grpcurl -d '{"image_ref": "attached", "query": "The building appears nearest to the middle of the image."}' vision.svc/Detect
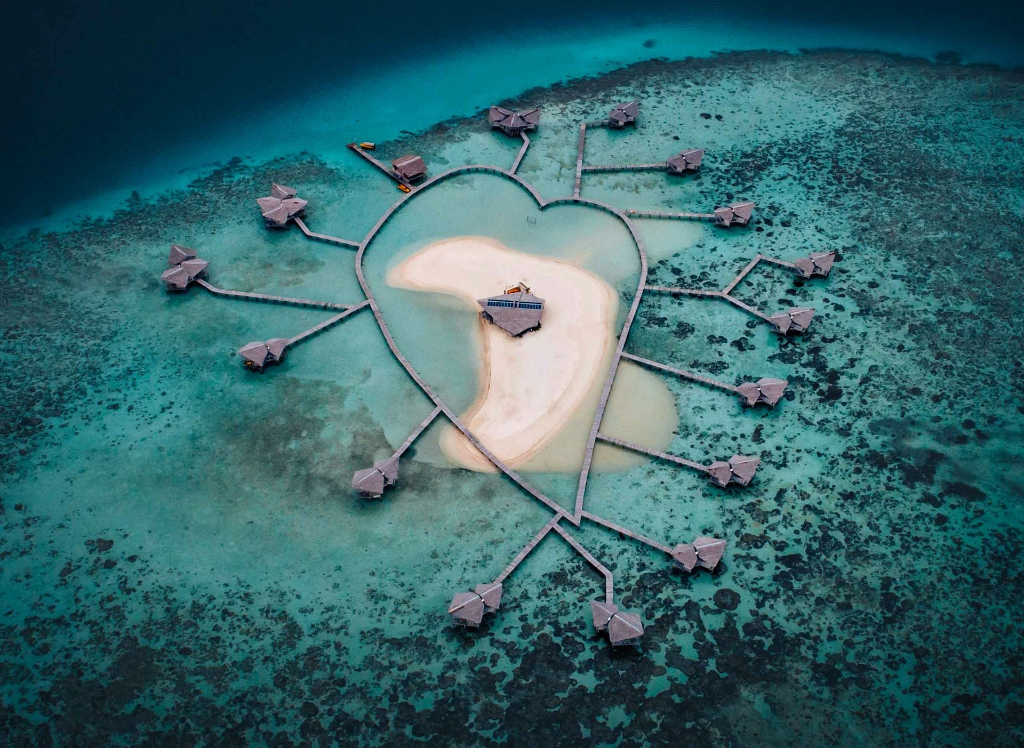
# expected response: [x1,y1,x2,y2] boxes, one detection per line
[478,293,545,338]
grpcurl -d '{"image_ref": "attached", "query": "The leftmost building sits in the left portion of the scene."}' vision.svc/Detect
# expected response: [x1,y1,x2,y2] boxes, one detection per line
[161,245,215,300]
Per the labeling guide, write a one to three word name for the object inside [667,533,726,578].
house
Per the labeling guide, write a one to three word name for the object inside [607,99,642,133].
house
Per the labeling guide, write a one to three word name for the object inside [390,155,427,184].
building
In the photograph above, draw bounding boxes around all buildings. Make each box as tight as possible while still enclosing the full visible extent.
[729,376,788,416]
[257,184,311,235]
[161,245,215,300]
[390,155,427,184]
[787,252,835,287]
[667,533,726,578]
[478,293,545,338]
[447,583,504,634]
[763,306,815,344]
[488,106,542,143]
[703,453,760,495]
[352,458,404,507]
[607,99,642,133]
[710,203,755,233]
[664,150,704,180]
[239,338,292,378]
[587,602,643,653]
